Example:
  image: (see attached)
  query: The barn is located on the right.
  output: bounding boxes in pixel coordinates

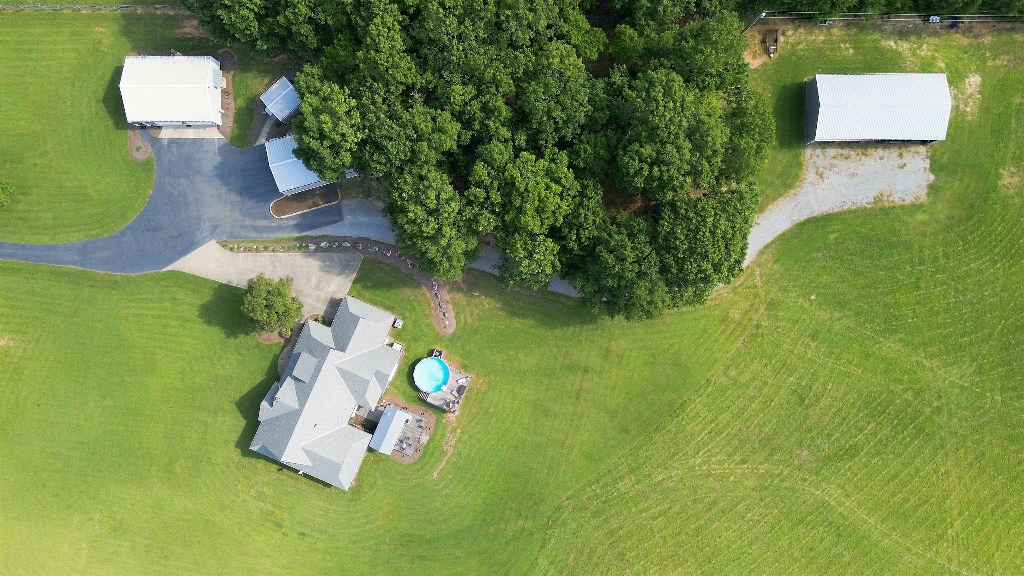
[806,73,952,149]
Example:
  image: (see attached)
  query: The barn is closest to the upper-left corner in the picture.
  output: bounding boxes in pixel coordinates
[119,54,228,130]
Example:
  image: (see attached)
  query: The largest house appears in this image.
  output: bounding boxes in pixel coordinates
[250,294,402,492]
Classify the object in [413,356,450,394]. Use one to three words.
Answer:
swimming pool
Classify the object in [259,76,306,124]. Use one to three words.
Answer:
shed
